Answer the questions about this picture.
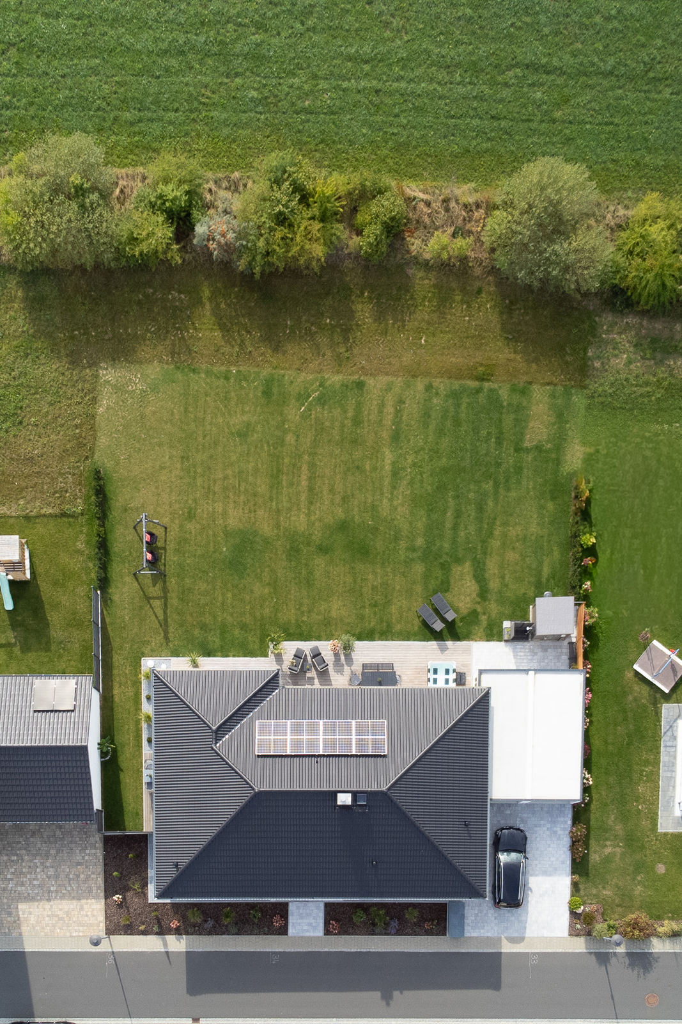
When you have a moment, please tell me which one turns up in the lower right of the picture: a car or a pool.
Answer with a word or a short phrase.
car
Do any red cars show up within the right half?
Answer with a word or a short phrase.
No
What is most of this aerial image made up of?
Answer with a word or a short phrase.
grass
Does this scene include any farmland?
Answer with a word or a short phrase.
Yes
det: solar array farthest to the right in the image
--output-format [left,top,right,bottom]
[255,720,389,754]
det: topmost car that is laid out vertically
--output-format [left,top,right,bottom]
[492,827,529,909]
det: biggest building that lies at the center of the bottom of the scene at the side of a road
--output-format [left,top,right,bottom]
[151,667,492,903]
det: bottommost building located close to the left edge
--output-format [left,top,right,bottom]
[0,673,101,824]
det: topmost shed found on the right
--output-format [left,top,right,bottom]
[528,597,574,641]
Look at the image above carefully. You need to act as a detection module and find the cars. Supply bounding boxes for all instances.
[6,1017,87,1024]
[492,827,529,909]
